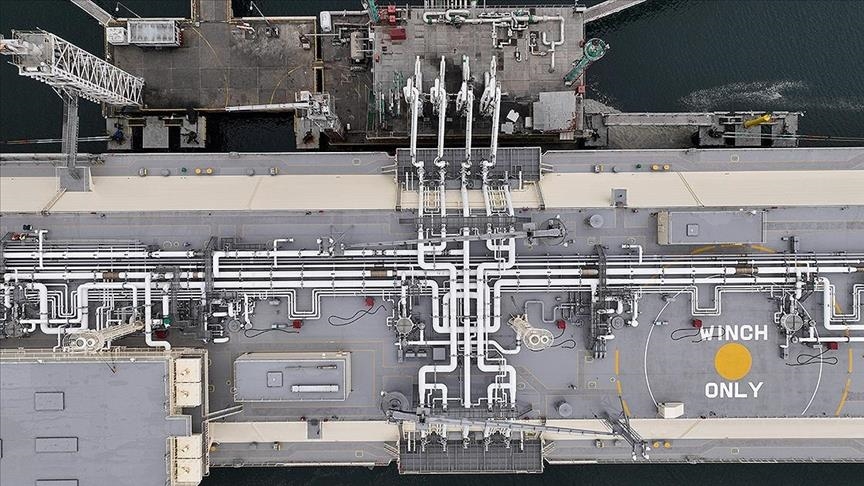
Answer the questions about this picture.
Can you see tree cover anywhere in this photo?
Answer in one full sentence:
No, there is no tree cover in the image.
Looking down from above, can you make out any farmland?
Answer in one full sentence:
No, there's no farmland in this view.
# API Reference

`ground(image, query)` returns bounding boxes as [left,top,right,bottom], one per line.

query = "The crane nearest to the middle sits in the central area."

[345,219,568,248]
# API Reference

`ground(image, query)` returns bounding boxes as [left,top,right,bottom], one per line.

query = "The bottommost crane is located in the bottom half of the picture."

[381,392,623,436]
